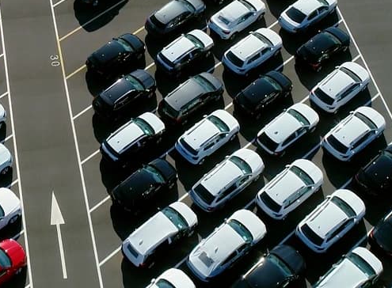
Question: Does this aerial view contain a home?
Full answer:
No, I find no home anywhere in the image.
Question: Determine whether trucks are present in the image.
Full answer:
No, the frame has no truck in it.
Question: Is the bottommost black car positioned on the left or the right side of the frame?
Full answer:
The bottommost black car is on the right side of the image.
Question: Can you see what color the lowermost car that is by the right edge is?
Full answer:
The lowermost car that is by the right edge looks white in the image.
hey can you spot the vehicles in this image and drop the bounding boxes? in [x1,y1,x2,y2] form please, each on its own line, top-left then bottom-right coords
[171,108,241,166]
[0,234,30,286]
[144,0,204,39]
[311,243,386,288]
[349,142,392,202]
[367,210,392,259]
[219,27,283,78]
[291,25,353,74]
[151,28,217,79]
[89,69,158,123]
[186,209,265,281]
[318,106,386,165]
[81,32,148,81]
[230,241,309,288]
[106,154,180,218]
[206,0,266,39]
[275,0,338,36]
[306,61,371,115]
[97,110,168,168]
[155,70,223,126]
[251,102,321,160]
[145,266,197,288]
[189,150,261,213]
[293,188,366,255]
[251,158,326,223]
[121,200,197,270]
[229,68,294,123]
[0,189,19,227]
